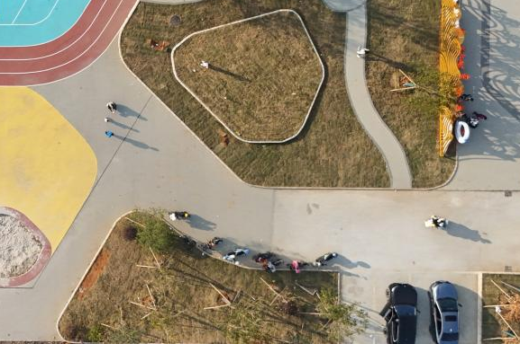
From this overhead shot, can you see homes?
No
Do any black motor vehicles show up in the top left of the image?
No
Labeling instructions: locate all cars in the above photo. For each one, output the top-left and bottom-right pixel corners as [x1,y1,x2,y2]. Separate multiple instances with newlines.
[375,283,422,344]
[425,281,463,344]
